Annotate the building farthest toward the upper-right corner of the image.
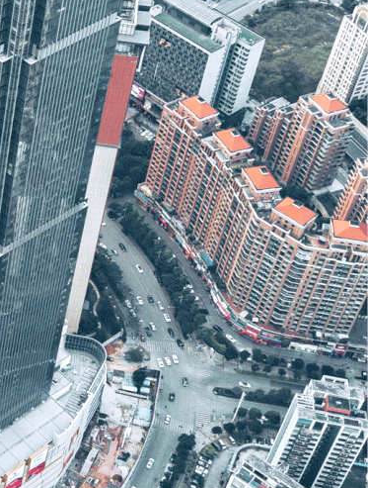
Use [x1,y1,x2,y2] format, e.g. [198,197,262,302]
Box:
[322,9,368,116]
